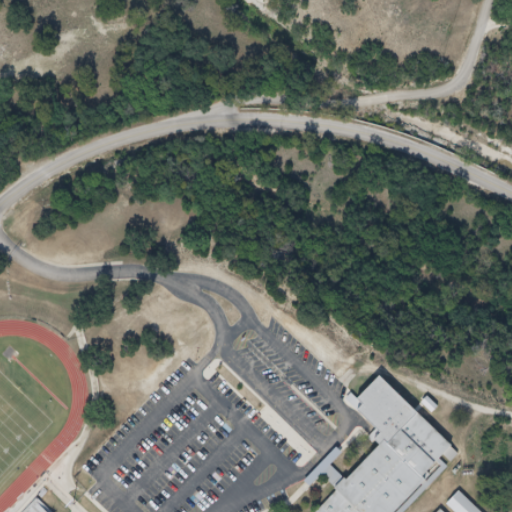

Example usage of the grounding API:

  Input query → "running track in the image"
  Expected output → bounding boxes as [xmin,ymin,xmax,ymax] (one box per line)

[0,319,87,512]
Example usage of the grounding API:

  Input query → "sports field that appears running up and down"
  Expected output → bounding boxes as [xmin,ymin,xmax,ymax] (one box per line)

[0,333,73,494]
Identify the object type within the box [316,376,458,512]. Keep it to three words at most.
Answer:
building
